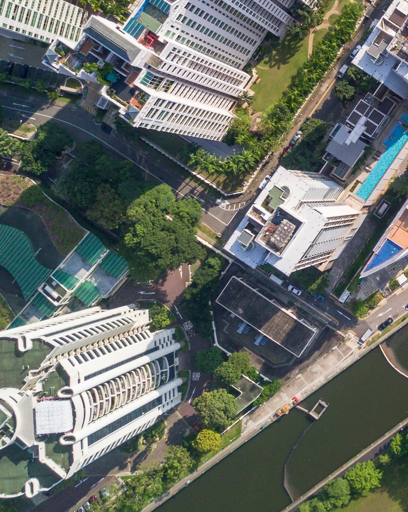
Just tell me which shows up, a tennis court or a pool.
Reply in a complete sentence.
It is a pool that can be seen here.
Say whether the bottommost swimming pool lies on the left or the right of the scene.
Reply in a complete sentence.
The bottommost swimming pool appears in the right half of the scene.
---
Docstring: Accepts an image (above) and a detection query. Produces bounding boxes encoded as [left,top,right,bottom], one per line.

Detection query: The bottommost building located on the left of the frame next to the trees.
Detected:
[0,304,185,498]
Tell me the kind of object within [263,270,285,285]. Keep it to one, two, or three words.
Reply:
vehicle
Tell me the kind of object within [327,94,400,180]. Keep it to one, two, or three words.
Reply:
building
